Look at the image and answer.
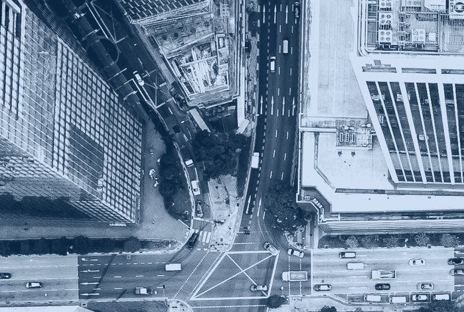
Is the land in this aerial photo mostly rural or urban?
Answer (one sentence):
This place is urban.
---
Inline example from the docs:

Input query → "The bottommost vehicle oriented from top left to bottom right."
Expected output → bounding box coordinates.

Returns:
[265,243,279,256]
